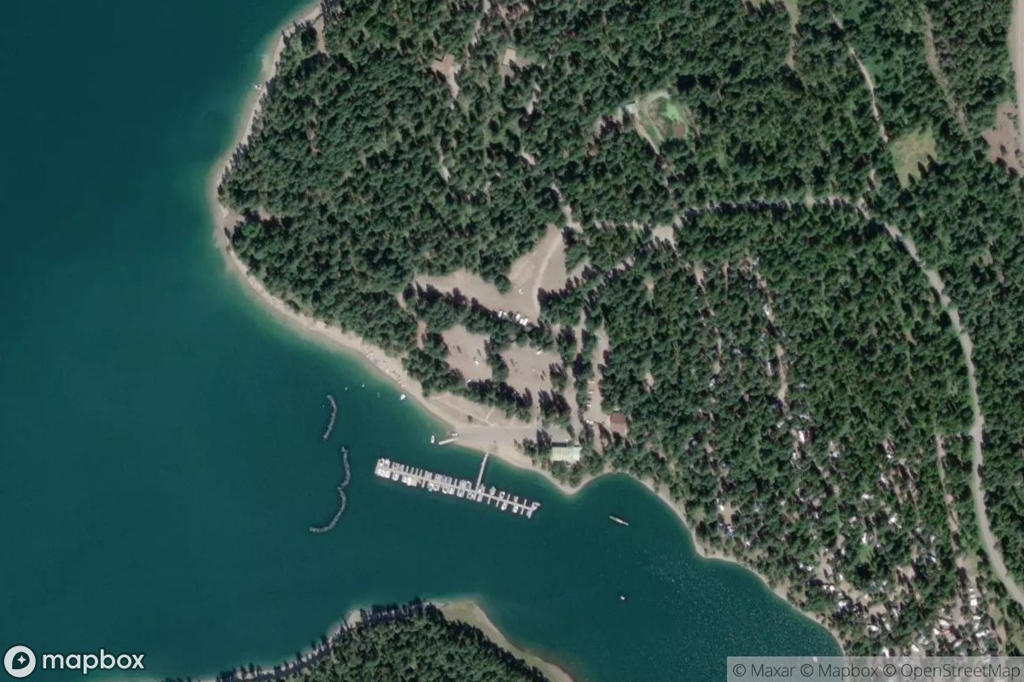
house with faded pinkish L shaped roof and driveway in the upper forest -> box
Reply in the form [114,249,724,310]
[433,54,457,74]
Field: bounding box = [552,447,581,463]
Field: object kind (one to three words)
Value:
building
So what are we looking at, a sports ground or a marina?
marina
